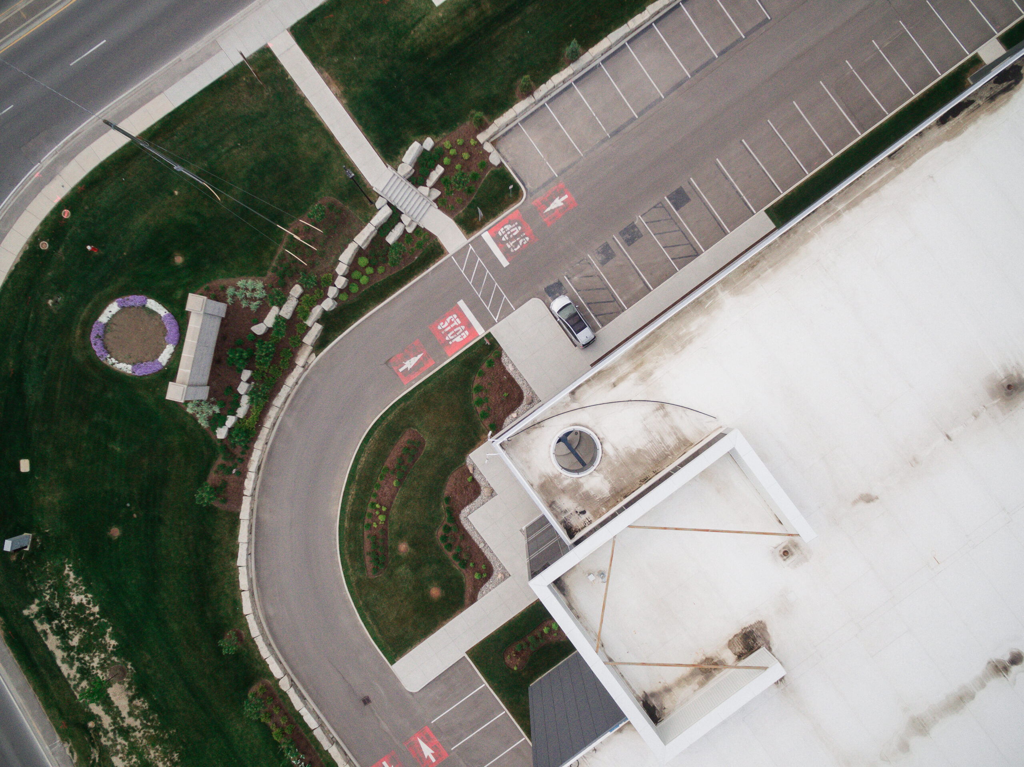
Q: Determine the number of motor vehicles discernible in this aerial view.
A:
1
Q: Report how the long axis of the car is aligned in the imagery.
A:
on a diagonal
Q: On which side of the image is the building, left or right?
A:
right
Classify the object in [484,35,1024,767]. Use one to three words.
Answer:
building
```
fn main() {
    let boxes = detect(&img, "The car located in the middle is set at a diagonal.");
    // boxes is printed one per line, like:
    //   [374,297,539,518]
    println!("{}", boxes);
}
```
[550,295,597,351]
